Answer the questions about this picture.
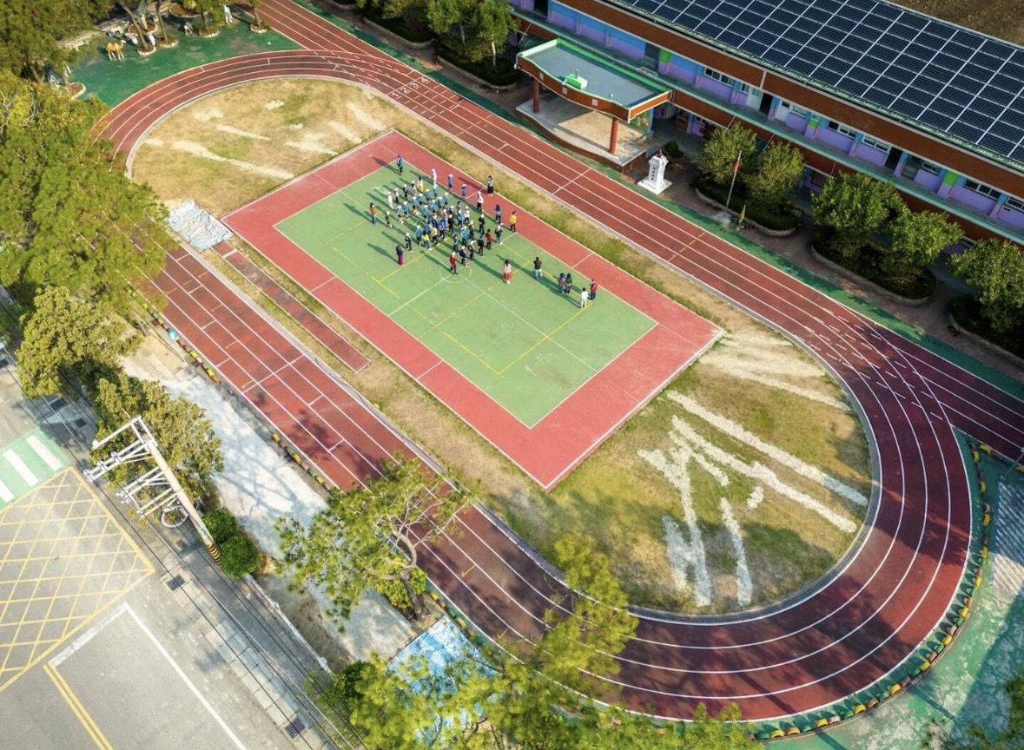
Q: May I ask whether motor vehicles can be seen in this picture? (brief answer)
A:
No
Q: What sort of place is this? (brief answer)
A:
sports ground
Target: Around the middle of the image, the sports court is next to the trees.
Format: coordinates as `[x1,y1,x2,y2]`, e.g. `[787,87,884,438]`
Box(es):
[221,128,726,489]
